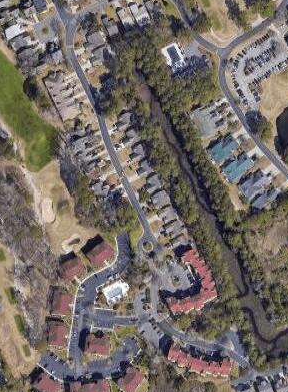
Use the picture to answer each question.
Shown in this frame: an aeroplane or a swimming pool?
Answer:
swimming pool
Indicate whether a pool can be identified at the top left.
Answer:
No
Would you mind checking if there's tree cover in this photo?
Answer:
Yes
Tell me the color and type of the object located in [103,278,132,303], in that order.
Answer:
white swimming pool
